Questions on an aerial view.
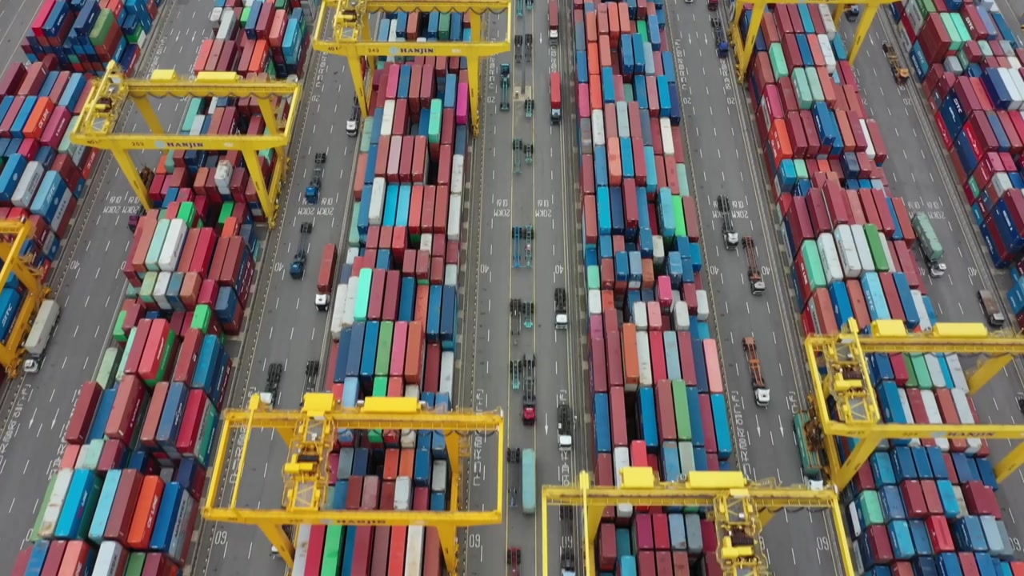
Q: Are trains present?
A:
No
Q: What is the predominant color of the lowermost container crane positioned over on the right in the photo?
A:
yellow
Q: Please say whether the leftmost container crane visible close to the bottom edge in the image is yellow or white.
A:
yellow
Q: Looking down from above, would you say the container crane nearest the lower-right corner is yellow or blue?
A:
yellow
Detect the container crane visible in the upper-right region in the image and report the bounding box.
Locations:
[727,0,911,73]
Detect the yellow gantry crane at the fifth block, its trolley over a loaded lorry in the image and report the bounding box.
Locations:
[806,317,1024,486]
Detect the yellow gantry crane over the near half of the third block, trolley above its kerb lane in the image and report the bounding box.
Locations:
[200,391,504,576]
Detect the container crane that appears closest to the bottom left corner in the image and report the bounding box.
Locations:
[0,222,49,375]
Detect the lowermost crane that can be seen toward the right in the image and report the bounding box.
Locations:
[543,463,858,576]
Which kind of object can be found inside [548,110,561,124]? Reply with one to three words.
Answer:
vehicle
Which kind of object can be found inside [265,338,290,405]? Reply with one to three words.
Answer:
truck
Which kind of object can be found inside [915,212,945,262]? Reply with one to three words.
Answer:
shipping container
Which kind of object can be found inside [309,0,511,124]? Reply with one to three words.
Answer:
container crane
